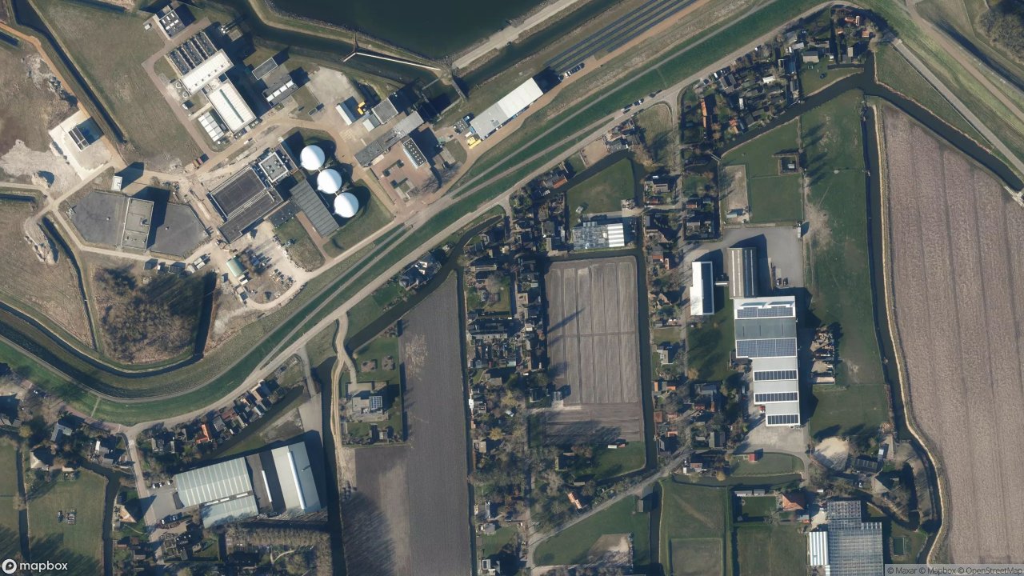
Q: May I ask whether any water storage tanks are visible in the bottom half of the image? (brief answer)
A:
No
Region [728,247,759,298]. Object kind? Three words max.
barn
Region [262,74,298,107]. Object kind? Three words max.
building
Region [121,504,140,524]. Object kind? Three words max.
house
